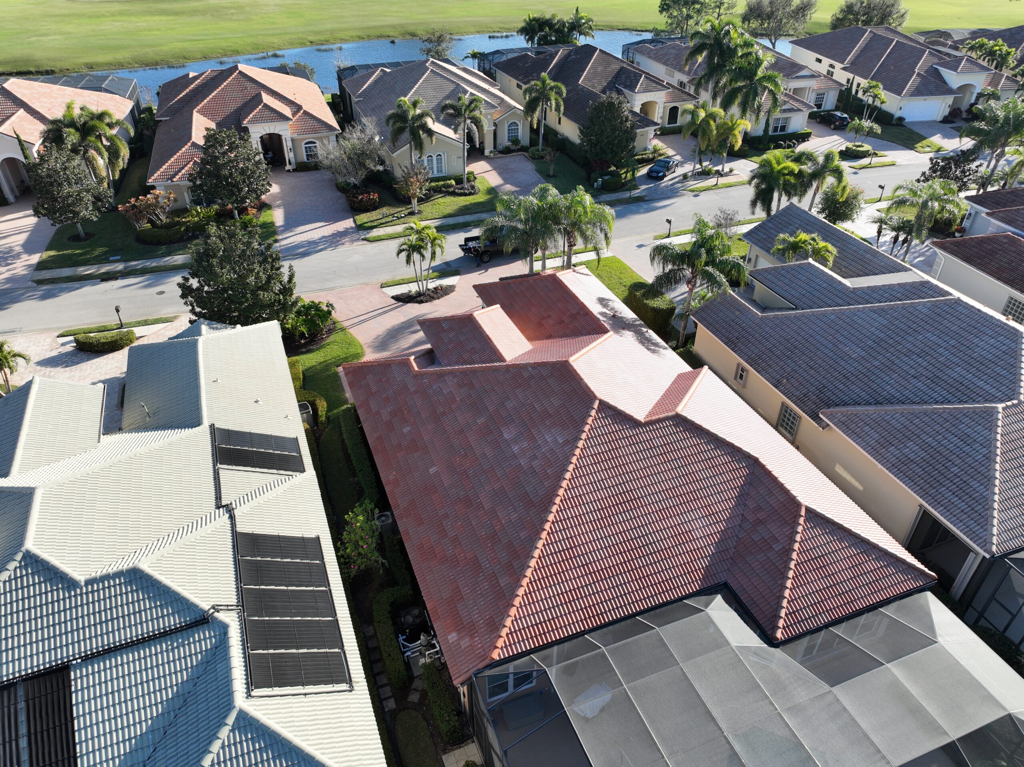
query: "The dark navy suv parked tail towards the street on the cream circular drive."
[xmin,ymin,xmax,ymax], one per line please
[816,110,850,128]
